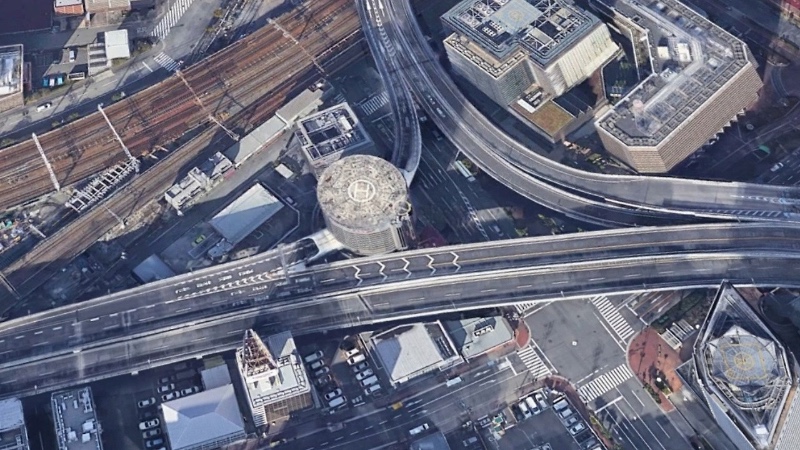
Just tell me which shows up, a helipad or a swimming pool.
helipad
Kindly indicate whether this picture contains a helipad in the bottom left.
No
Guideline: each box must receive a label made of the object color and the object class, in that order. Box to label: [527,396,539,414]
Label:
white vehicle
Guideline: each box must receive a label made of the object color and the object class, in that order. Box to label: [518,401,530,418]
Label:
white vehicle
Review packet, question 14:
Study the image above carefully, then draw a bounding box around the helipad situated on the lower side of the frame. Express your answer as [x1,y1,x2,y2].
[710,330,777,390]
